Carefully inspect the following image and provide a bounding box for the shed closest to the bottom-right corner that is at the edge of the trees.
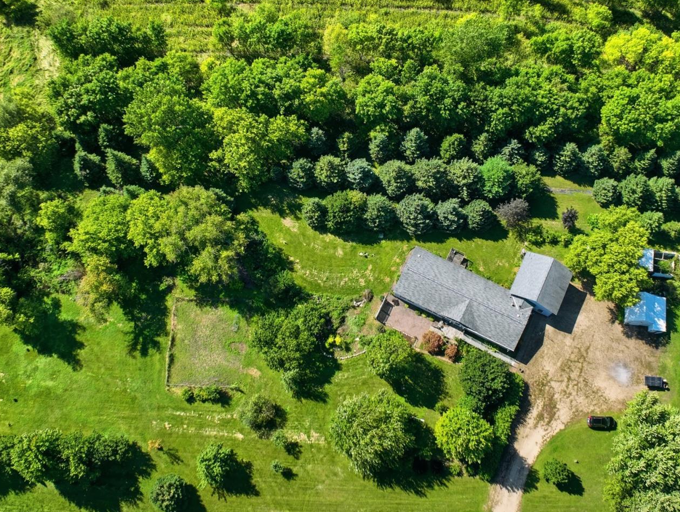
[619,291,666,336]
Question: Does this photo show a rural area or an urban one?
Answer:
rural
